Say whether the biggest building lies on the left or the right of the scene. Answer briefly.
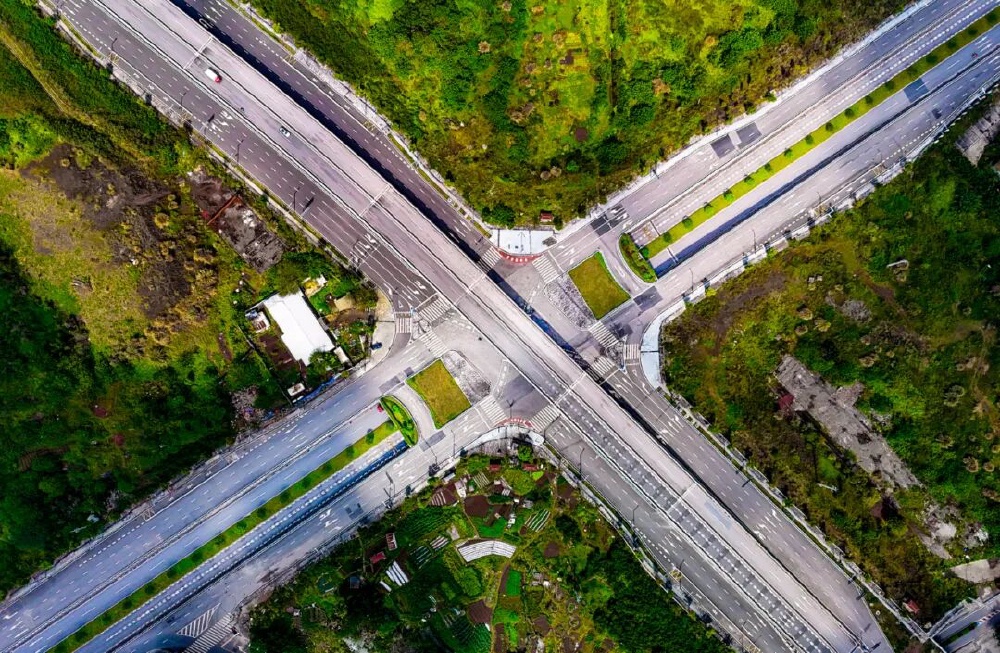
left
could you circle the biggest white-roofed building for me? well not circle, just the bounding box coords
[268,288,335,364]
